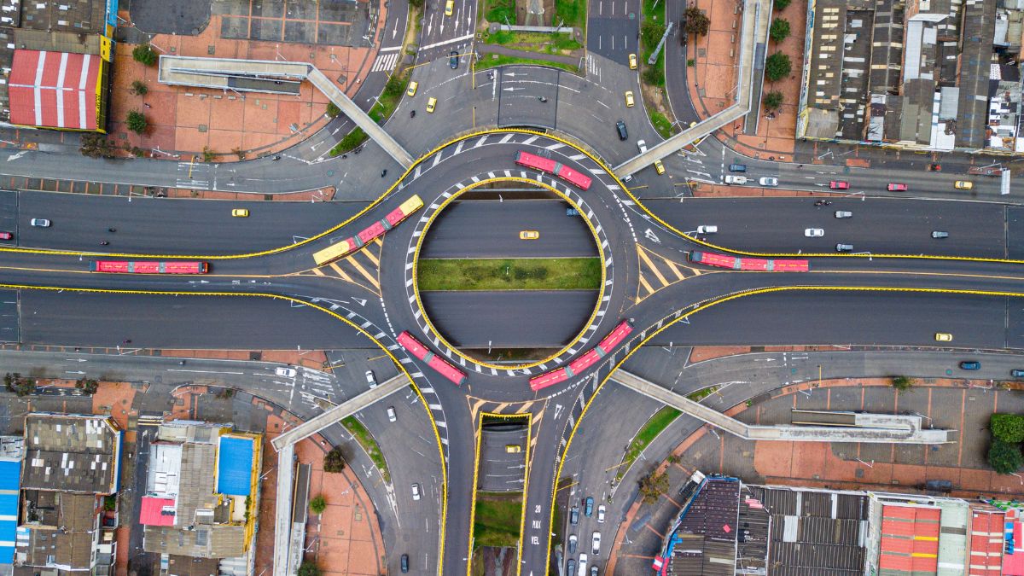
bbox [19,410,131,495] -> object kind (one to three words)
building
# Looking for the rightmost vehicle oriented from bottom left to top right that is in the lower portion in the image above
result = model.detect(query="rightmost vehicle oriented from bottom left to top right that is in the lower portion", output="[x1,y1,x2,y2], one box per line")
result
[632,513,651,531]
